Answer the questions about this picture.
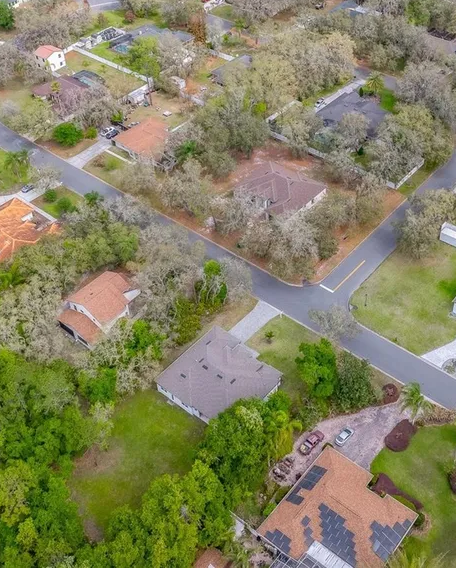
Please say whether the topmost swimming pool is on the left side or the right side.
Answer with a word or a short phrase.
left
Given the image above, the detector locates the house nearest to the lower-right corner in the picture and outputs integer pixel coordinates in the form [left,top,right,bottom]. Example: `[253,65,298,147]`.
[254,443,419,568]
